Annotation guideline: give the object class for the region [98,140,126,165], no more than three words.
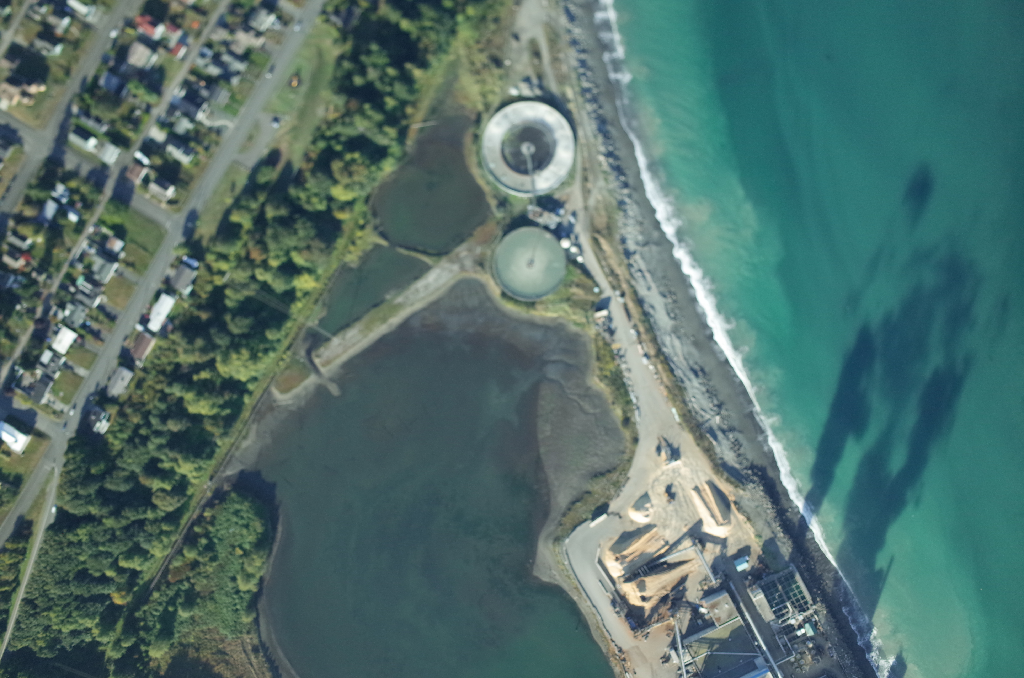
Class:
building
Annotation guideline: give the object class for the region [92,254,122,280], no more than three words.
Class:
house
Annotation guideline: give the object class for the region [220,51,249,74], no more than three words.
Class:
house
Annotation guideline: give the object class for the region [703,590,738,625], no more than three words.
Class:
building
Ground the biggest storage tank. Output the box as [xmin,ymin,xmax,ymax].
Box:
[482,102,576,206]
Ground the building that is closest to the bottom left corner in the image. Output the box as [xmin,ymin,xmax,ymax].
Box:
[0,422,35,453]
